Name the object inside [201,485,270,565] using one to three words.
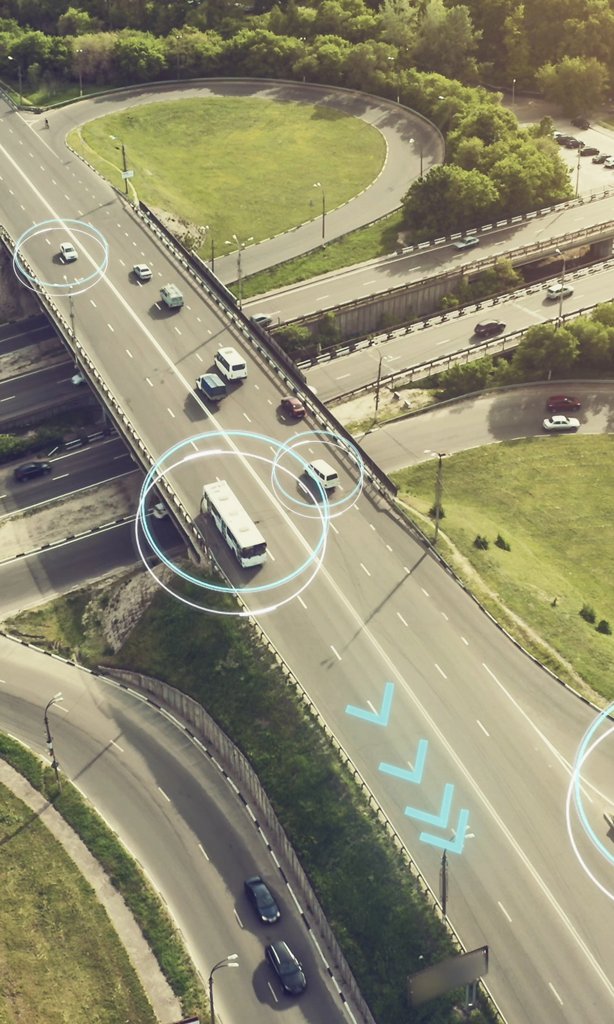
bus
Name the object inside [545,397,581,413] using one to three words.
car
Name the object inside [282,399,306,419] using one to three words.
car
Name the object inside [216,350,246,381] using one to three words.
vehicle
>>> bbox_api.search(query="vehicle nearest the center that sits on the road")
[307,461,337,491]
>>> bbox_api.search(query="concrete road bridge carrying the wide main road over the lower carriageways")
[0,189,435,599]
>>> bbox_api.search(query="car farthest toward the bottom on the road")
[267,940,304,995]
